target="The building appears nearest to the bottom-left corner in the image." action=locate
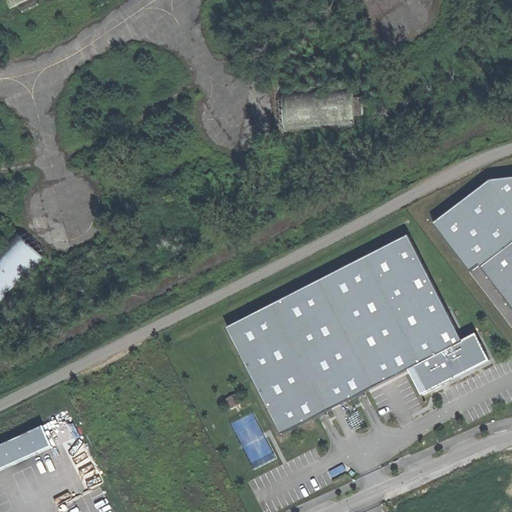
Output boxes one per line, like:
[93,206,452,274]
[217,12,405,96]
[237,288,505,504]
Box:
[0,425,52,474]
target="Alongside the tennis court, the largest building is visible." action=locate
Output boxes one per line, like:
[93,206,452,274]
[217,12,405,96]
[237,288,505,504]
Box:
[226,235,460,432]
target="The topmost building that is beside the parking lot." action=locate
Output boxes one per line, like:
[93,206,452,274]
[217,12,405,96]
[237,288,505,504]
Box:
[432,178,512,328]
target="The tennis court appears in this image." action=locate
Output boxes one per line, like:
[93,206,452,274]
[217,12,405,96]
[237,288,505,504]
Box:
[231,412,276,469]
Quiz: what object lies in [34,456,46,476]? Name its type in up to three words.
vehicle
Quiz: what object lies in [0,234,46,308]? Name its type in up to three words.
hangar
